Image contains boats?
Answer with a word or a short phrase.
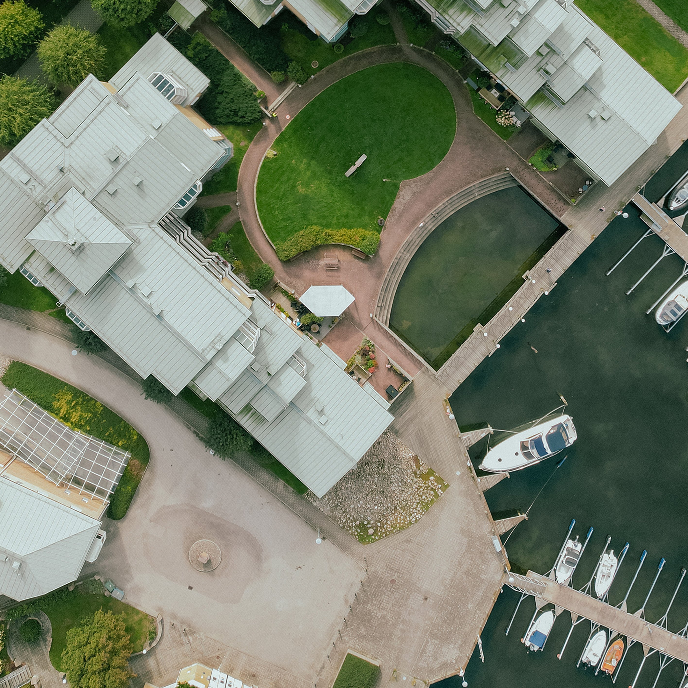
Yes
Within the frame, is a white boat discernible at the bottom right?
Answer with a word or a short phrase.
Yes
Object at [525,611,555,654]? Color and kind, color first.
white boat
